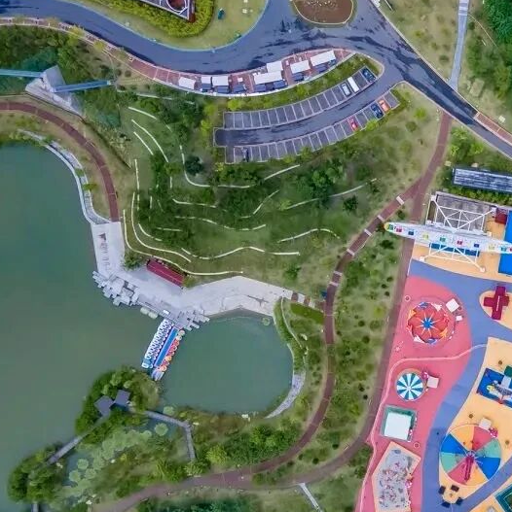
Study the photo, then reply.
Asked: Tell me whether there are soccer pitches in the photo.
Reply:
No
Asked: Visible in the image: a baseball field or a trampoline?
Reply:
trampoline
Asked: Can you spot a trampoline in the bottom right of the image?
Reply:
Yes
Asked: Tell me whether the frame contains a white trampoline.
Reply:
Yes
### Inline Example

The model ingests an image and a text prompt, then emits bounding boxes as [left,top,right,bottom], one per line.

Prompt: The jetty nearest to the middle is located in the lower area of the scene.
[155,326,181,368]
